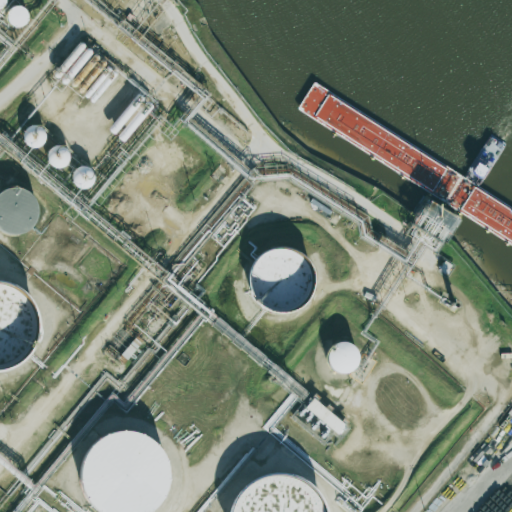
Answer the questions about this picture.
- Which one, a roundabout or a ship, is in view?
ship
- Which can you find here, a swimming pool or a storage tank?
storage tank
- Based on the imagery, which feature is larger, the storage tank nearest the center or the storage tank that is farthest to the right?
the storage tank nearest the center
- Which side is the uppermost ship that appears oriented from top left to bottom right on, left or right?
right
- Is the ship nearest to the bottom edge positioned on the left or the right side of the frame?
right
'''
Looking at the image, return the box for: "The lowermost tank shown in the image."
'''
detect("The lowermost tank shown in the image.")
[232,469,328,512]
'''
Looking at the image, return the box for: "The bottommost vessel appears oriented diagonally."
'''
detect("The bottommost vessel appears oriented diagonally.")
[450,177,512,239]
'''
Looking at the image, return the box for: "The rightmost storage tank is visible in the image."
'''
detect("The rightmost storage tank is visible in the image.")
[326,338,361,376]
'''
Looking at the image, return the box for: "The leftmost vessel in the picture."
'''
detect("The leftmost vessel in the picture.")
[300,86,461,200]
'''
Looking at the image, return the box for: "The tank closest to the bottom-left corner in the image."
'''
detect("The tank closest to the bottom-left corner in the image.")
[81,426,174,512]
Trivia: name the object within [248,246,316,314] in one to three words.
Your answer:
storage tank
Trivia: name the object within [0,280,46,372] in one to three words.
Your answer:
storage tank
